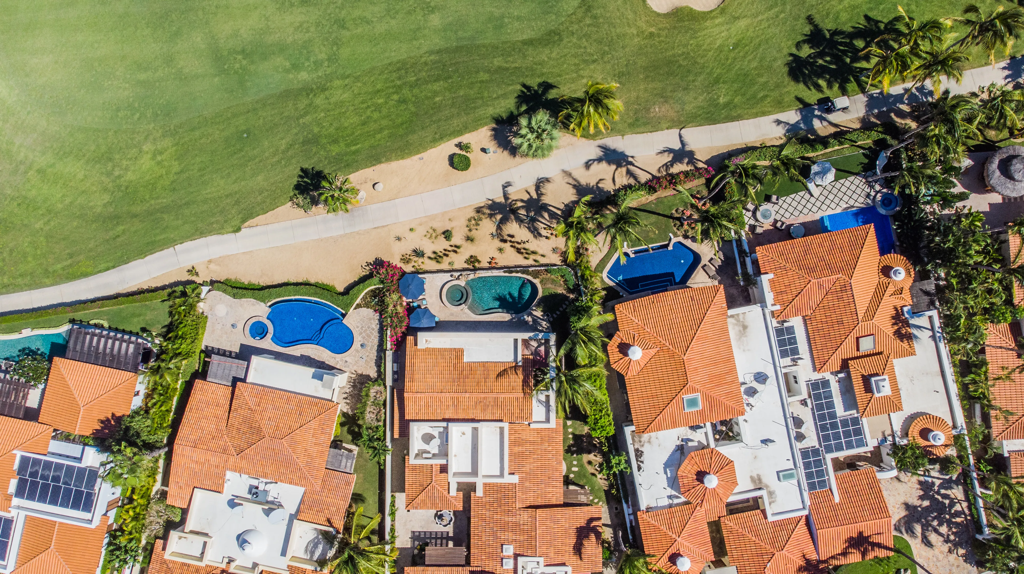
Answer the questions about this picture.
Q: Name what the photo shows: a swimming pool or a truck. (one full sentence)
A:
There is a swimming pool in the scene.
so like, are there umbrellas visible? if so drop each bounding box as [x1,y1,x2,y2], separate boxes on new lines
[409,306,436,332]
[810,161,836,186]
[398,274,425,300]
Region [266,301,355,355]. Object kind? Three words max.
swimming pool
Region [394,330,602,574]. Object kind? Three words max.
house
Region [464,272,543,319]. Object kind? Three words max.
swimming pool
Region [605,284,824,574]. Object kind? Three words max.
house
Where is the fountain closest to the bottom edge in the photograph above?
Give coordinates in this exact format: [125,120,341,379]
[437,511,454,528]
